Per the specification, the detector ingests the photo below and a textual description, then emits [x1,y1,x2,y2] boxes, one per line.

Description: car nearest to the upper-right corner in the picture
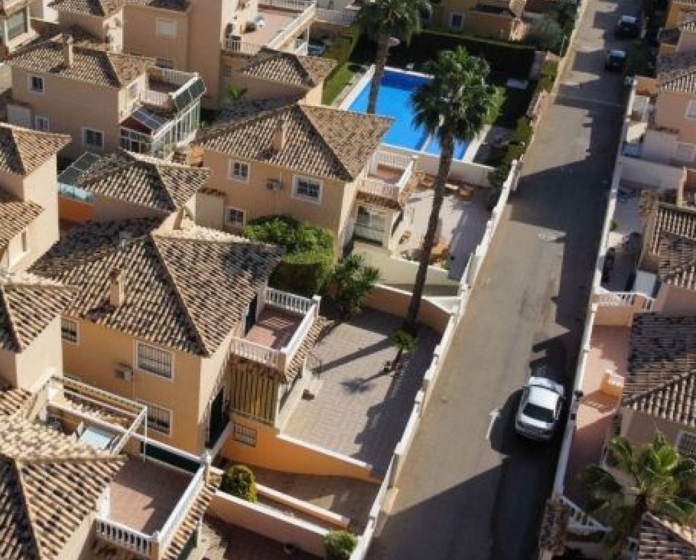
[619,14,642,39]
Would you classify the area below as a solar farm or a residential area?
residential area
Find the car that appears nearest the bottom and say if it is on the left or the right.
right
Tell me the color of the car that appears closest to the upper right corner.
black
